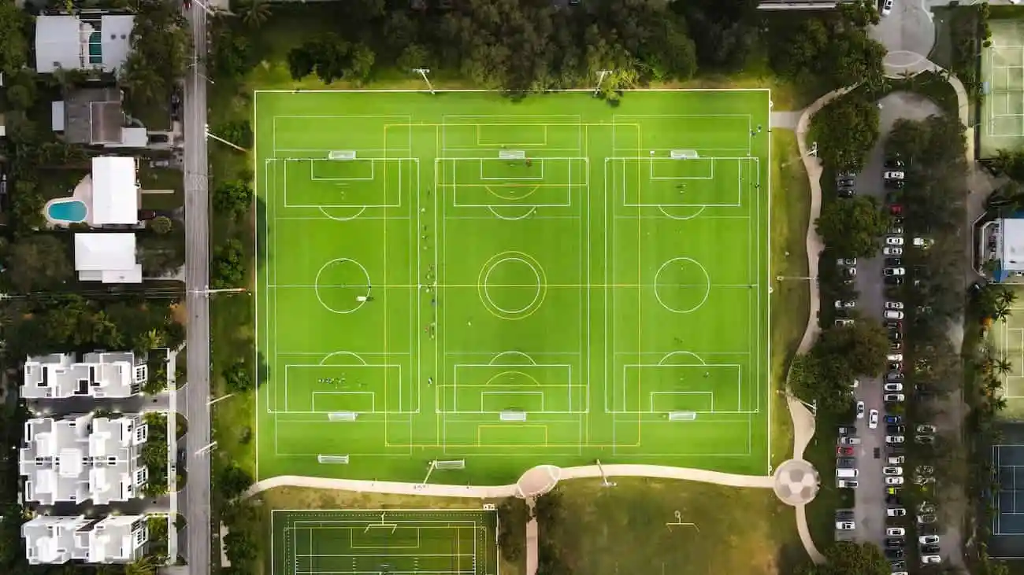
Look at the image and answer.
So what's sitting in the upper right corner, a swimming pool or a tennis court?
tennis court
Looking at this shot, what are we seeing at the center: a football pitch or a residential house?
football pitch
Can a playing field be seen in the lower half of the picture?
Yes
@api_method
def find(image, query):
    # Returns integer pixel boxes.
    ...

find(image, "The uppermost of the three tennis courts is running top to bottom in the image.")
[984,19,1024,157]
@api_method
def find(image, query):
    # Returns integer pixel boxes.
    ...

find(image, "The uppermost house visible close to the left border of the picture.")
[34,12,138,81]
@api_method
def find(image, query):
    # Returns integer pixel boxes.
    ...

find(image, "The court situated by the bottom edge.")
[986,424,1024,558]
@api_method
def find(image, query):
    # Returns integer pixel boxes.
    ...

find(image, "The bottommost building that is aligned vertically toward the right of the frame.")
[987,210,1024,283]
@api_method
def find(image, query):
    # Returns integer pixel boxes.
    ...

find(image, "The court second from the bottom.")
[990,284,1024,422]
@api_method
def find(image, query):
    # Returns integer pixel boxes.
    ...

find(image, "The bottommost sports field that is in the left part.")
[271,510,498,575]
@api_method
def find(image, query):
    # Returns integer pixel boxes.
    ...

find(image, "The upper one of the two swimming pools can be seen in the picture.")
[80,17,102,64]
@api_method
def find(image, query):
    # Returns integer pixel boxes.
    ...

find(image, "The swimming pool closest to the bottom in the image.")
[44,173,93,229]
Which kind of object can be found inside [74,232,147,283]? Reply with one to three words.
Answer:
house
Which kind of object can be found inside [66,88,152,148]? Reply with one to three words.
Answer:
house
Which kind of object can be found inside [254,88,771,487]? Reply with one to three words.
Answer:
sports field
